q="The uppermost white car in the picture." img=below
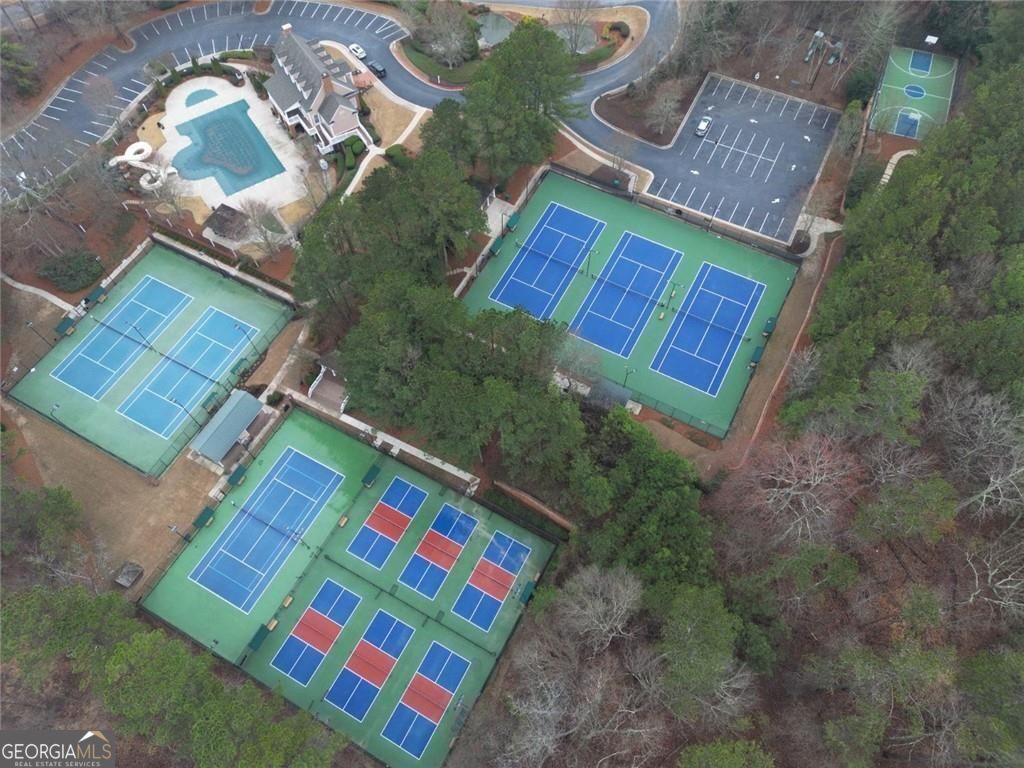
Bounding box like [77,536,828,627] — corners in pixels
[347,42,367,57]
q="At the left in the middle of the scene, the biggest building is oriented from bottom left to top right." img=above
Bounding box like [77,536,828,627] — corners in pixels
[189,389,269,473]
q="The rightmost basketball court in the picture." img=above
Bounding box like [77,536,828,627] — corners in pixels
[870,47,957,142]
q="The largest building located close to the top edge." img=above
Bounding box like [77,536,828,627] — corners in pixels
[260,24,374,160]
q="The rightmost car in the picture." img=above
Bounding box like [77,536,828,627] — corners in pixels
[695,115,713,134]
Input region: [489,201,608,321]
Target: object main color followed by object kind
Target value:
blue tennis court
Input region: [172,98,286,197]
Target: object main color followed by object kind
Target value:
blue swimming pool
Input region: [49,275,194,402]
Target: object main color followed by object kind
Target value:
blue tennis court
